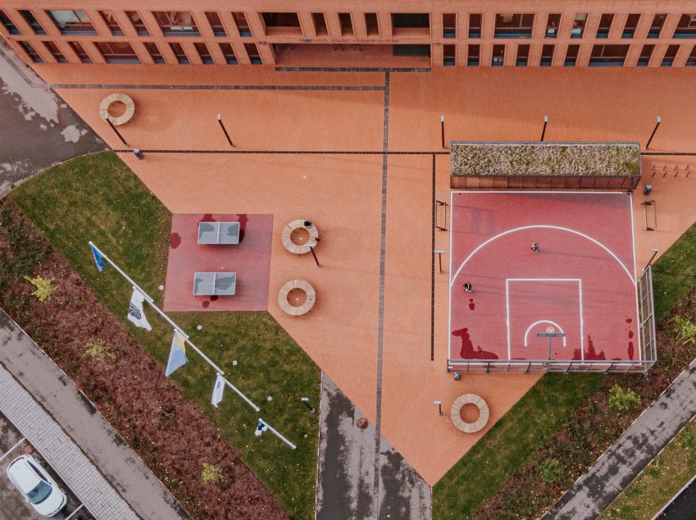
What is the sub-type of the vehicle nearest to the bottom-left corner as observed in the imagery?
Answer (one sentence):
I'd say the vehicle nearest to the bottom-left corner is a car.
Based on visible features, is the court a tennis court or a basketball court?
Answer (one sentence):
Looking closely, the court is a basketball court.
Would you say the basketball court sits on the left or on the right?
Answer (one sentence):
You can find the basketball court on the right side of the picture.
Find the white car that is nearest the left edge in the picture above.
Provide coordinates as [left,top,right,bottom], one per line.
[9,455,68,516]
